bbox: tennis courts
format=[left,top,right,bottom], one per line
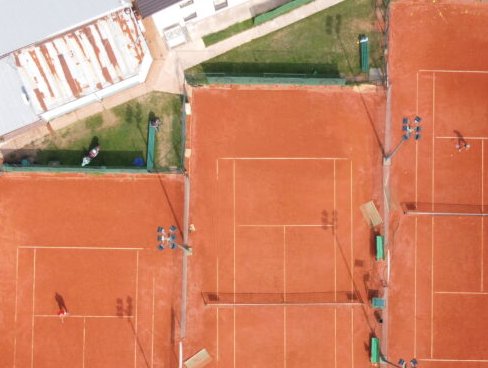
[0,173,186,368]
[388,0,488,368]
[185,84,388,368]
